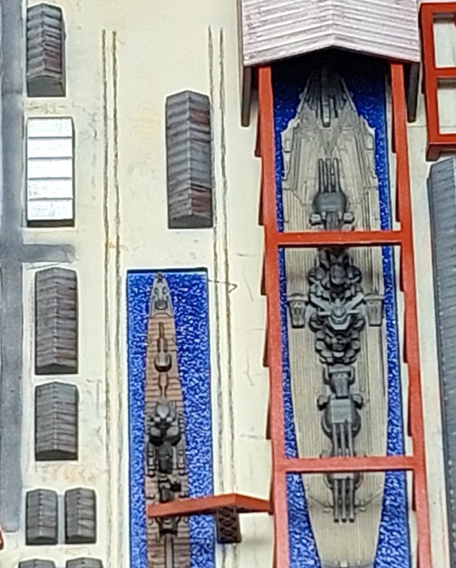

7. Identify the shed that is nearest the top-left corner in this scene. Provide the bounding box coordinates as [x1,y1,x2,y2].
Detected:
[27,4,63,95]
